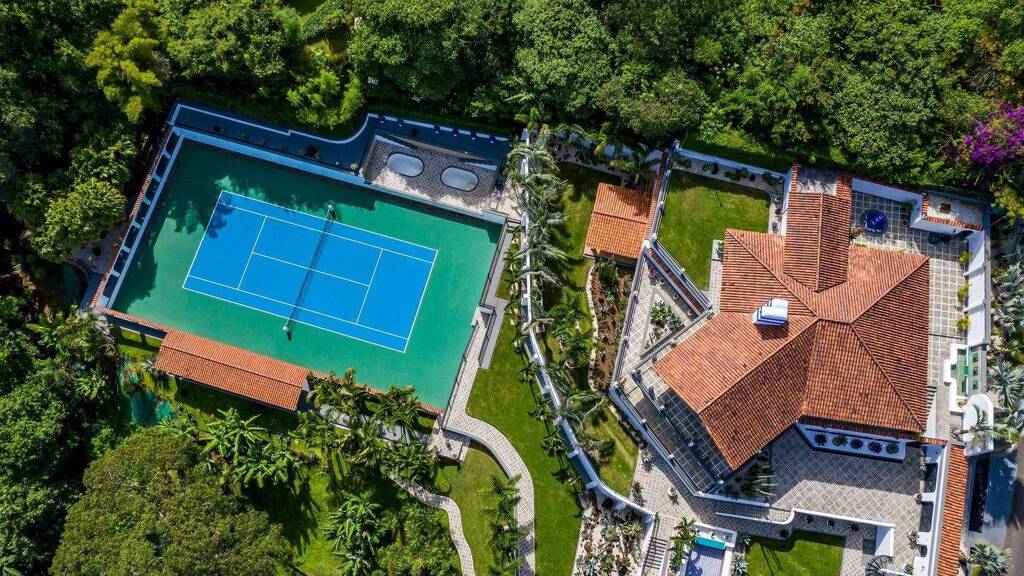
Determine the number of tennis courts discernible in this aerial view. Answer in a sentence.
Only 1 tennis court is visible.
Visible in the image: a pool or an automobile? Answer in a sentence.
Looking from above, you can make out a pool.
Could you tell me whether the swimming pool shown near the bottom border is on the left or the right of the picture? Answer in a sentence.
The swimming pool shown near the bottom border sits on the right side.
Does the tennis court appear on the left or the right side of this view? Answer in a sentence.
The tennis court appears in the left half of the scene.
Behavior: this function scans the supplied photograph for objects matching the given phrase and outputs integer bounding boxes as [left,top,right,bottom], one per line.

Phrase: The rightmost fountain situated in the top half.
[864,210,890,233]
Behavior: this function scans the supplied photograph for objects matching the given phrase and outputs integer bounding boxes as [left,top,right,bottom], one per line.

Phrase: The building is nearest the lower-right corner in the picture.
[930,446,971,576]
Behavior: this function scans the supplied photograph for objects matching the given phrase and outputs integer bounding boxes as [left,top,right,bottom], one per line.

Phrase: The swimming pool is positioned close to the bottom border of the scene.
[682,525,740,576]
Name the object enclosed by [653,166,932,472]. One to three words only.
house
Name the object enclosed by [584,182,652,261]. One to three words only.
building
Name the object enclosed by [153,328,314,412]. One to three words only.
building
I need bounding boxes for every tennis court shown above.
[104,140,503,404]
